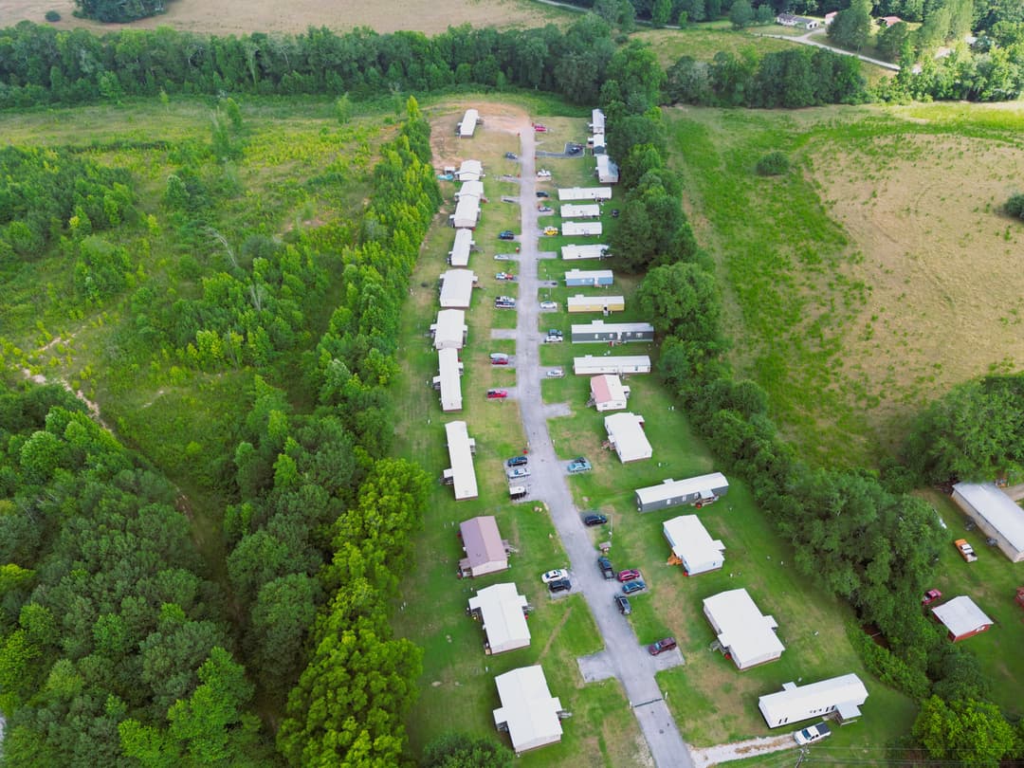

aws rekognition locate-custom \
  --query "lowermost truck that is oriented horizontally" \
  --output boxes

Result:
[794,721,834,744]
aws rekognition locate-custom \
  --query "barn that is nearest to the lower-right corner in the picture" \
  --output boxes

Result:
[928,596,994,643]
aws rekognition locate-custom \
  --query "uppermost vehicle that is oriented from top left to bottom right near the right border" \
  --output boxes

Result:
[950,538,983,564]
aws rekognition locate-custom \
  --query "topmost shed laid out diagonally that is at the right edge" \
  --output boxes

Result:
[949,478,1024,561]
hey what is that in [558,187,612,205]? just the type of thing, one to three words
house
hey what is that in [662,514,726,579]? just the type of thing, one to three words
house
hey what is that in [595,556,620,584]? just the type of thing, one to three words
truck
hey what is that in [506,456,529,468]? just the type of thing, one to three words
vehicle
